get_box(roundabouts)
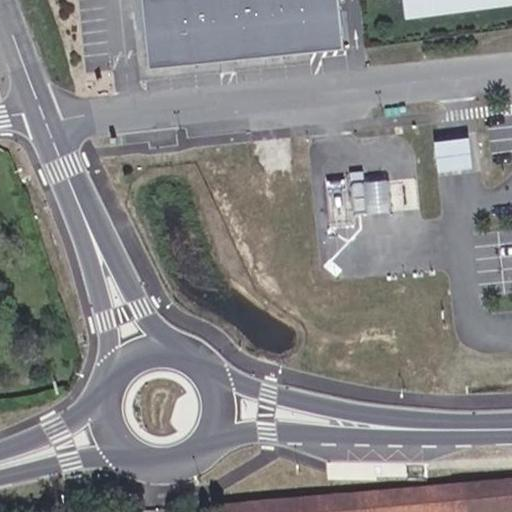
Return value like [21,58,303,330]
[92,338,232,477]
